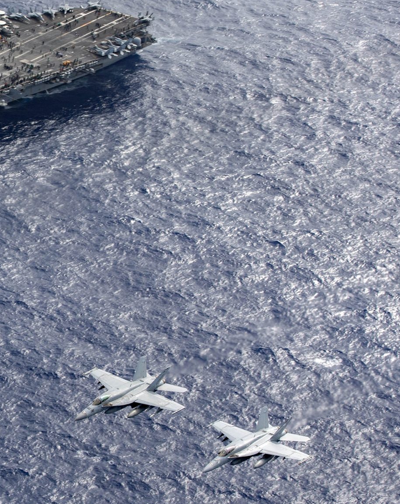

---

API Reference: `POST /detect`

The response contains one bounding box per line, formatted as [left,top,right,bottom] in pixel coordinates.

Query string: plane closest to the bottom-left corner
[74,355,188,421]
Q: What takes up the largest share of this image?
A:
water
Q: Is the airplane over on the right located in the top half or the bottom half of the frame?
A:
bottom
